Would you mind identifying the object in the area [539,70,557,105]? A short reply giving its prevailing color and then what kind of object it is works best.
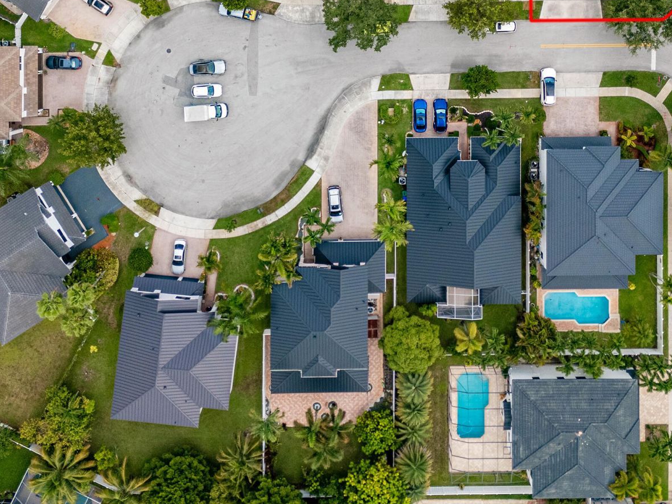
white car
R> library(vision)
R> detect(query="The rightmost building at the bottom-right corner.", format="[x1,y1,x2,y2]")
[499,368,640,500]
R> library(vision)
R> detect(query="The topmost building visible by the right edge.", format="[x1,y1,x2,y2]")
[539,136,663,290]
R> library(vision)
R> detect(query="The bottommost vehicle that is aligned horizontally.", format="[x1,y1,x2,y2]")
[182,103,229,122]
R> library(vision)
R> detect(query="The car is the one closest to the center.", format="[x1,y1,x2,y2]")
[327,186,343,221]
